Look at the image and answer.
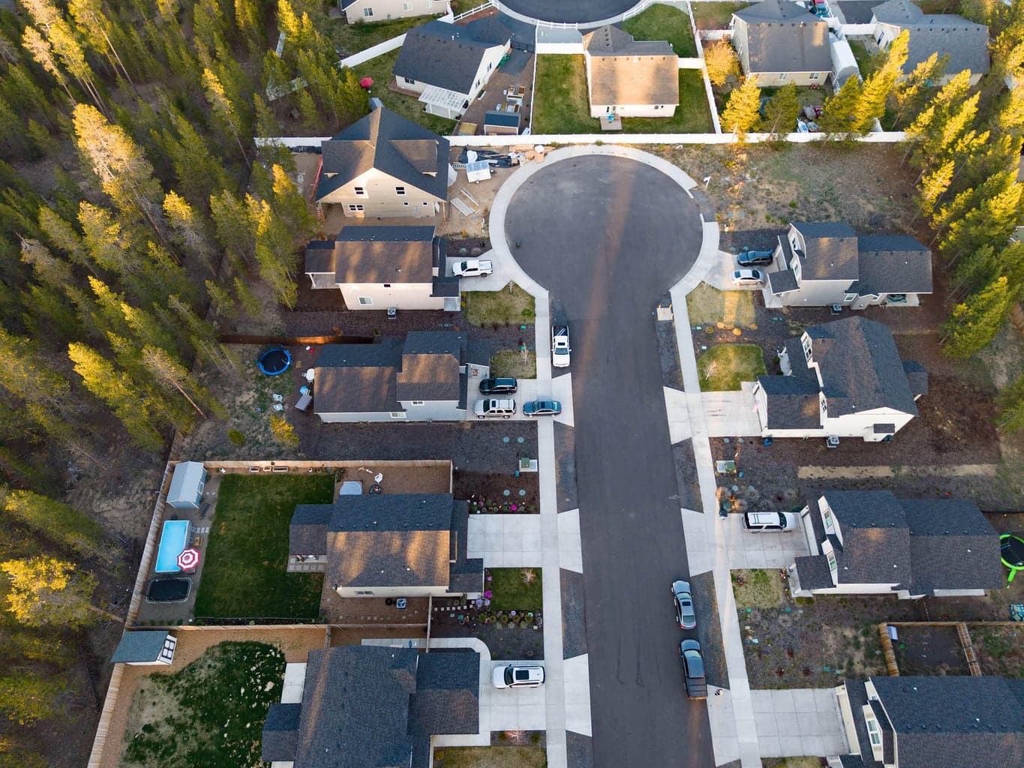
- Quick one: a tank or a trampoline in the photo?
trampoline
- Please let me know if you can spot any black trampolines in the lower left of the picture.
Yes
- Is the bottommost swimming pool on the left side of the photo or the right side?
left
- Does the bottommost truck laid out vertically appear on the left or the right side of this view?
right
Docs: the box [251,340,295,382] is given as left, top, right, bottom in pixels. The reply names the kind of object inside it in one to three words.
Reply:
trampoline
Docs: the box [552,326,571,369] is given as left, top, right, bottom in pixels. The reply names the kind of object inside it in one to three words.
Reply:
vehicle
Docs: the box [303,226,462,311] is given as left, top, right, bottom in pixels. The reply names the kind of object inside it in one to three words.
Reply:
house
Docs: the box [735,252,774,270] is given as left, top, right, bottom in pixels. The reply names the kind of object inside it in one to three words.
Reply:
car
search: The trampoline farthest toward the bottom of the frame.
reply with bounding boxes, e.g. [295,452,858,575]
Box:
[144,579,195,605]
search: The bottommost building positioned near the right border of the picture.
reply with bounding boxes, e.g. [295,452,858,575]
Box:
[825,676,1024,768]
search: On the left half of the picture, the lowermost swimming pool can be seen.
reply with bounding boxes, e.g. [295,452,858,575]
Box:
[152,515,202,577]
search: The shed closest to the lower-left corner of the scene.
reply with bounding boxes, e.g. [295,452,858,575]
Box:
[111,629,177,664]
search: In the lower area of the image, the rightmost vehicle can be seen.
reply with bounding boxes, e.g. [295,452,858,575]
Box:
[743,511,797,537]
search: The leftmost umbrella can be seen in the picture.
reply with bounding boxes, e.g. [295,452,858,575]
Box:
[176,547,203,572]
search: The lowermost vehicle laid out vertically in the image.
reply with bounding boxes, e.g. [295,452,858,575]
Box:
[681,639,713,705]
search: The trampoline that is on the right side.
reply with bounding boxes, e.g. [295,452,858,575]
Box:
[999,529,1024,586]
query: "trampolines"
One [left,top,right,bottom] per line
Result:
[251,340,295,382]
[999,529,1024,586]
[144,579,195,605]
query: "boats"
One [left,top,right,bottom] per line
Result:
[795,115,812,133]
